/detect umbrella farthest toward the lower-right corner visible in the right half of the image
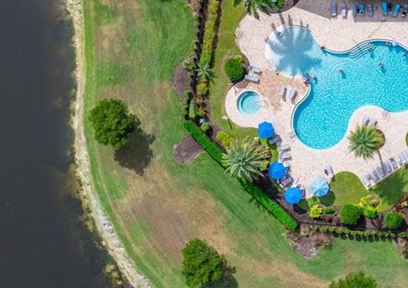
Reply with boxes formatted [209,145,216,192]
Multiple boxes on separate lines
[310,176,330,196]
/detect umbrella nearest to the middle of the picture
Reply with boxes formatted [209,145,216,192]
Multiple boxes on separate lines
[258,122,275,138]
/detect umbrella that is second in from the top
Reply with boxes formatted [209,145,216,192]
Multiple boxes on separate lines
[268,162,286,180]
